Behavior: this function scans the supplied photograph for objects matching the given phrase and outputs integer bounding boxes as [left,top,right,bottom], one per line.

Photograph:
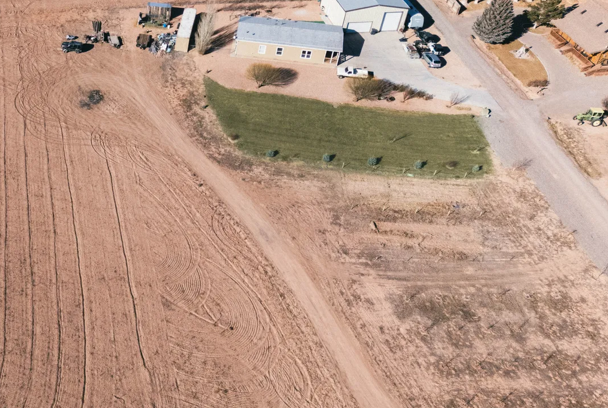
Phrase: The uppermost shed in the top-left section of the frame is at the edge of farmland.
[146,2,171,22]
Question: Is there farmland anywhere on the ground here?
Yes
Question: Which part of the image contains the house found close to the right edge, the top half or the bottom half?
top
